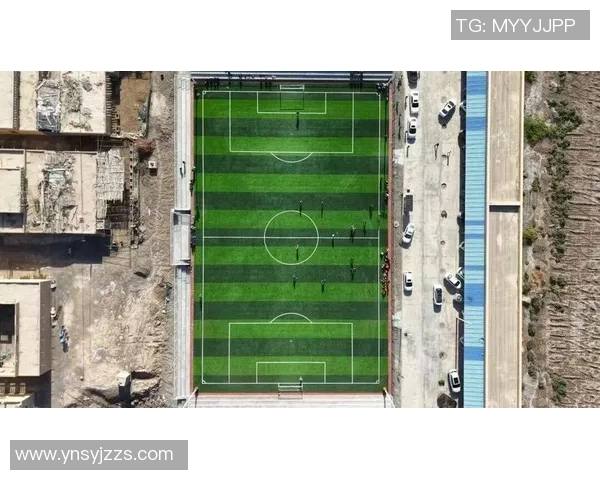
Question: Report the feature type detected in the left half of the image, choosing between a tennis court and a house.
house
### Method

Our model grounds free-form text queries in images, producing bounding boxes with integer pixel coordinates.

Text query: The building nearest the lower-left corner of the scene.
[0,389,42,471]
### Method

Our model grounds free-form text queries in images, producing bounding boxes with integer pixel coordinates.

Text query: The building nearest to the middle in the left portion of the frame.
[172,208,192,264]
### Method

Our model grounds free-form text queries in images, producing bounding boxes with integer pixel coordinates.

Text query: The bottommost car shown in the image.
[448,369,461,391]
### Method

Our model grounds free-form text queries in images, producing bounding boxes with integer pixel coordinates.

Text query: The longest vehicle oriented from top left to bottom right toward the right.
[442,272,462,289]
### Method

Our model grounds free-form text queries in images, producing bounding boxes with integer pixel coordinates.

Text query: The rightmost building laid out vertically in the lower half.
[488,210,524,480]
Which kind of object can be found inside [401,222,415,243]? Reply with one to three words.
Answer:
car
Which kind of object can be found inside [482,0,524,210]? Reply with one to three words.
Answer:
building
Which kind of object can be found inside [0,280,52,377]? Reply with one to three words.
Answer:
house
